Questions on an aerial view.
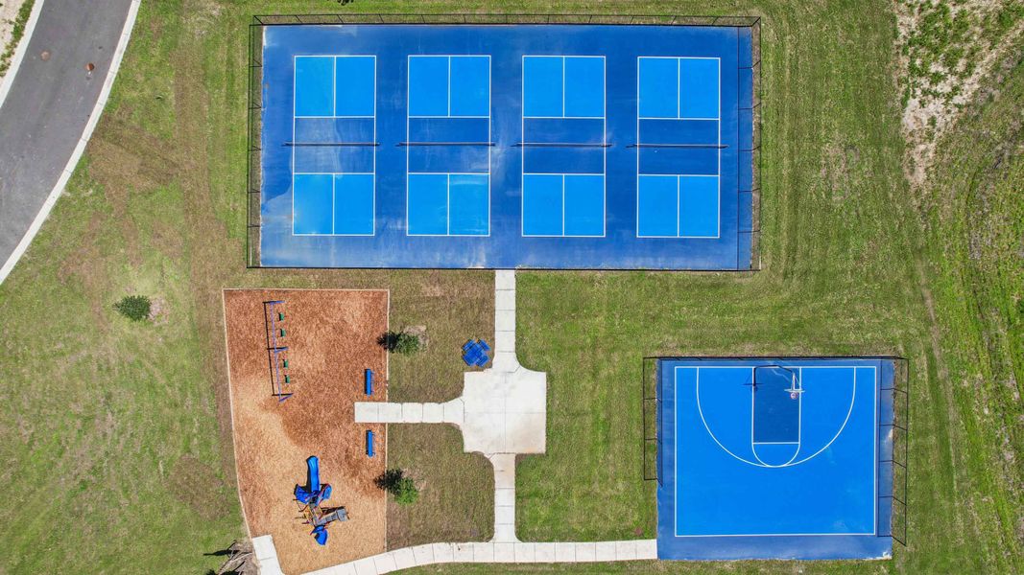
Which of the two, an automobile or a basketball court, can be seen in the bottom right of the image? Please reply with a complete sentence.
The one visible in the bottom right of the image is a basketball court.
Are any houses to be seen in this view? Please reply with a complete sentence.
No, the frame has no house in it.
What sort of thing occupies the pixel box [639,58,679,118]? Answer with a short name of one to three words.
sports court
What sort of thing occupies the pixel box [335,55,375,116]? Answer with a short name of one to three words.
sports court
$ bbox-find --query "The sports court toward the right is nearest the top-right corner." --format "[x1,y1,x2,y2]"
[679,58,720,118]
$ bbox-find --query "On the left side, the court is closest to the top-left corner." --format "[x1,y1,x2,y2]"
[294,55,334,116]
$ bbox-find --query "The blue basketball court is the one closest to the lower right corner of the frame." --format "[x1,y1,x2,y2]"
[657,359,894,561]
